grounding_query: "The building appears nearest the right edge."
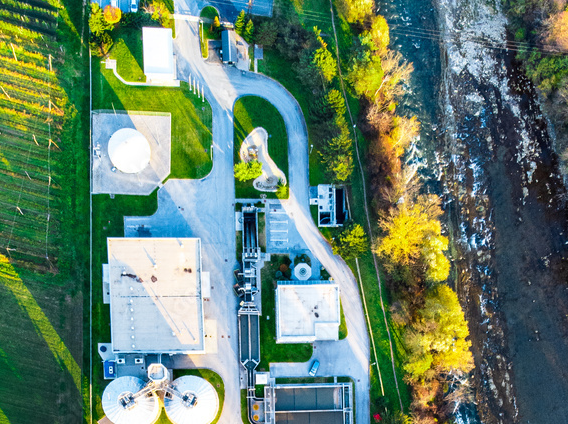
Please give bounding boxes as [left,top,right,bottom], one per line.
[318,185,347,228]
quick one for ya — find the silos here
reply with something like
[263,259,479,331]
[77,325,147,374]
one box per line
[103,375,165,424]
[163,373,221,424]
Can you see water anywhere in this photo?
Yes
